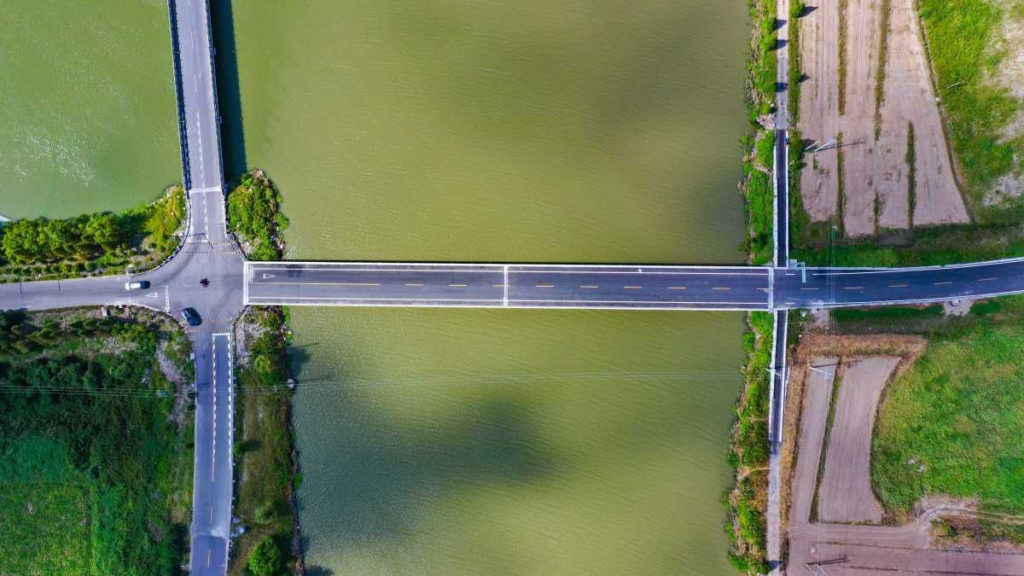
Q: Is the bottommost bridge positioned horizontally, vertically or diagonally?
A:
horizontally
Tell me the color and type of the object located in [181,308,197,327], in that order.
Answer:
blue car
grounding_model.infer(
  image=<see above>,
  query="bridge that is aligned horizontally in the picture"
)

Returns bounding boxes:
[245,262,773,311]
